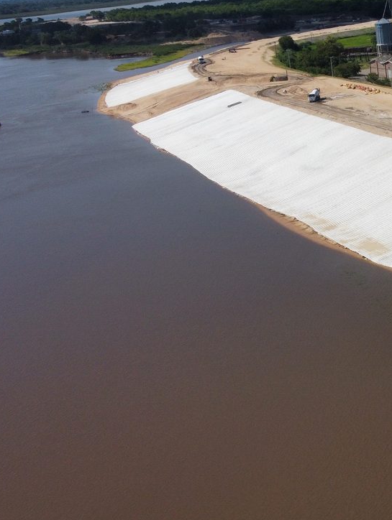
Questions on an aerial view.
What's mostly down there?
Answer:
water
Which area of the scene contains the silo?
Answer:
top right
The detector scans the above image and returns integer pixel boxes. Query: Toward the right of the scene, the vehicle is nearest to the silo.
[302,85,322,101]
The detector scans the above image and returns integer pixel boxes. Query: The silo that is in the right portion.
[371,13,392,54]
